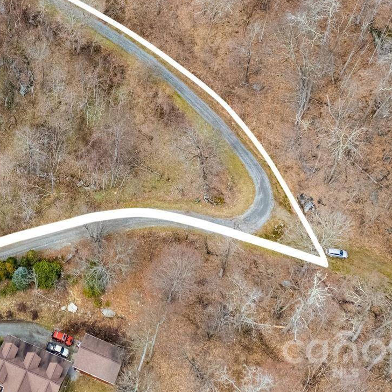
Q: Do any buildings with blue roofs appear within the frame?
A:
No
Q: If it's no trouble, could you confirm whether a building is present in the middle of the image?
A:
No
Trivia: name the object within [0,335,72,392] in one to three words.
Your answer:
house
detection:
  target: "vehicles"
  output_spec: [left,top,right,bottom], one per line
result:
[326,249,349,260]
[53,330,73,346]
[46,341,70,359]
